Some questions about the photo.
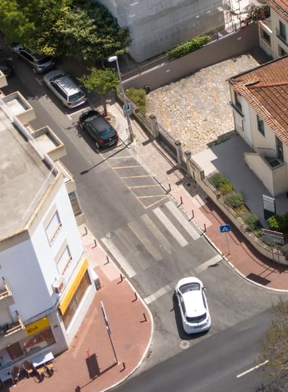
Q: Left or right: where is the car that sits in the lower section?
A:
right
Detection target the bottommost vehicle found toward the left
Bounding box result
[75,106,118,146]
